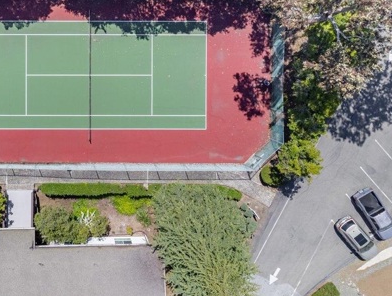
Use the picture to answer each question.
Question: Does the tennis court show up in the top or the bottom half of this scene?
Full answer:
The tennis court is in the top half of the image.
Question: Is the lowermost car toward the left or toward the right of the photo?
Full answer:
The lowermost car sits on the right side.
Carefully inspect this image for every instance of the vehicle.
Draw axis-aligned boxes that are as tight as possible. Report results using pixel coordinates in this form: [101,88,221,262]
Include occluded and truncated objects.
[336,213,376,259]
[350,183,392,240]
